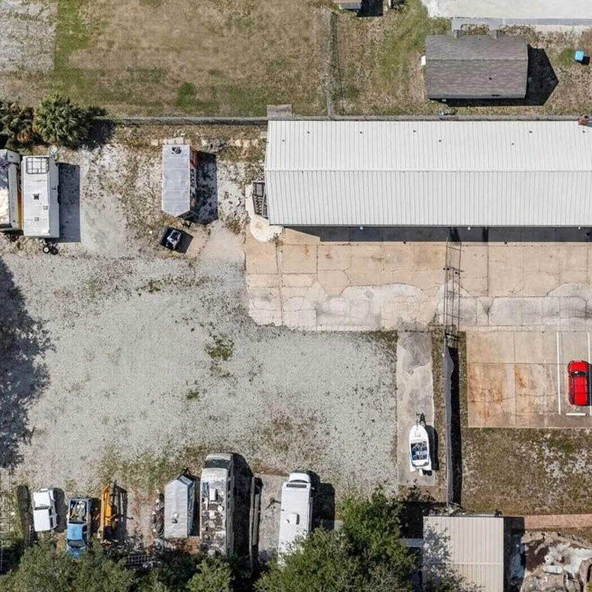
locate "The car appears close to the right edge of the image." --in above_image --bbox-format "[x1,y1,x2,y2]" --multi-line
[570,361,592,406]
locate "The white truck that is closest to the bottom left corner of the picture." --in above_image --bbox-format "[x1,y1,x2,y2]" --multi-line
[28,487,56,538]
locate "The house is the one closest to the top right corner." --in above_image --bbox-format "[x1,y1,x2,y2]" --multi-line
[421,29,528,100]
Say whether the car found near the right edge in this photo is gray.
No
